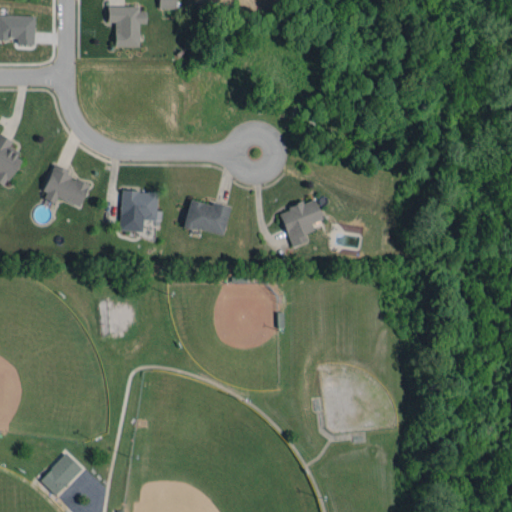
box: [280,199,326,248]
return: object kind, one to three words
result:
house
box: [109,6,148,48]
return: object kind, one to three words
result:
house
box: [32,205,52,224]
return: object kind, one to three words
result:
swimming pool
